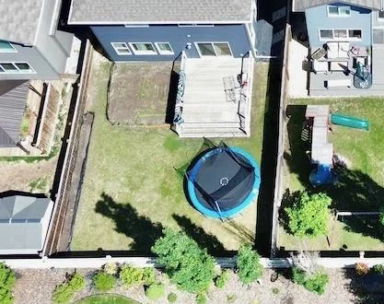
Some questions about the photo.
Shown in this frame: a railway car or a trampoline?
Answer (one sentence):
There is a trampoline in the scene.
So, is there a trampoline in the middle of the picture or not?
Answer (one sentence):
Yes, you'll find a trampoline in the middle of the picture.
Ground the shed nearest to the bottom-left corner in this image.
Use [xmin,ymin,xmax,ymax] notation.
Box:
[0,192,52,253]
